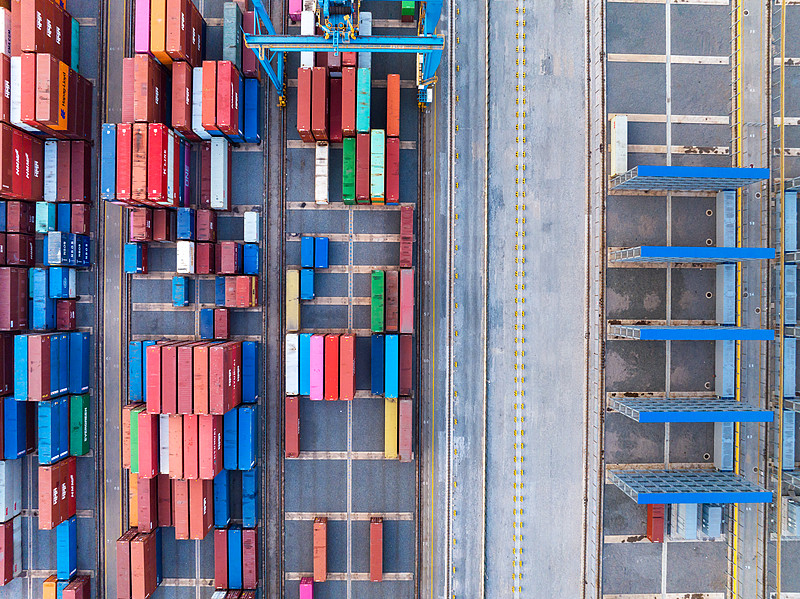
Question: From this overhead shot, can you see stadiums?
No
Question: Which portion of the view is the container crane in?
top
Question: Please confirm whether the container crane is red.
No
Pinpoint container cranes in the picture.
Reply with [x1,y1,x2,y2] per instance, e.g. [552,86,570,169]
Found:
[245,0,448,108]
